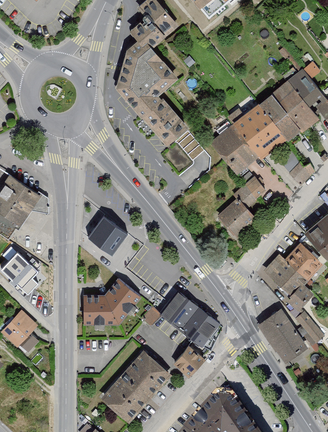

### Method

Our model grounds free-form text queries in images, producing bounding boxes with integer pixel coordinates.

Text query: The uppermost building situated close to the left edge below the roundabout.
[0,175,48,240]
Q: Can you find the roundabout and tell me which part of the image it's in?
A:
top left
